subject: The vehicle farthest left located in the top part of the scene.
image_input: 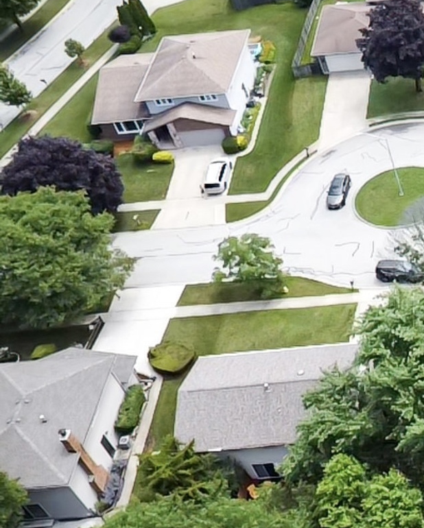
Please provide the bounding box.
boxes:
[198,161,228,195]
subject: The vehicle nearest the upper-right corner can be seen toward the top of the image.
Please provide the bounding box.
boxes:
[324,172,349,206]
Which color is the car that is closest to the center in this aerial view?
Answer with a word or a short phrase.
white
